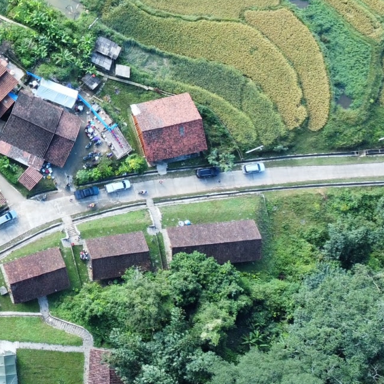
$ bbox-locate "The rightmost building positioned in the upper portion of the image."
[130,92,207,163]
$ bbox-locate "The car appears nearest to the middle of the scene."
[193,165,220,179]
